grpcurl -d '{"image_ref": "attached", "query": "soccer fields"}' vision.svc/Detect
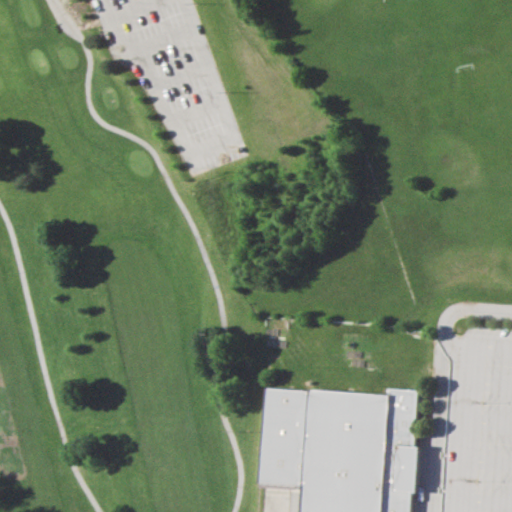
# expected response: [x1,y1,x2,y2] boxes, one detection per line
[411,0,505,77]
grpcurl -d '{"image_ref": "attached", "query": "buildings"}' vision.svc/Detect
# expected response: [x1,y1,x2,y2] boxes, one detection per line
[260,388,418,512]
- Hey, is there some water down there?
No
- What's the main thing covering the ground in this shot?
grass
